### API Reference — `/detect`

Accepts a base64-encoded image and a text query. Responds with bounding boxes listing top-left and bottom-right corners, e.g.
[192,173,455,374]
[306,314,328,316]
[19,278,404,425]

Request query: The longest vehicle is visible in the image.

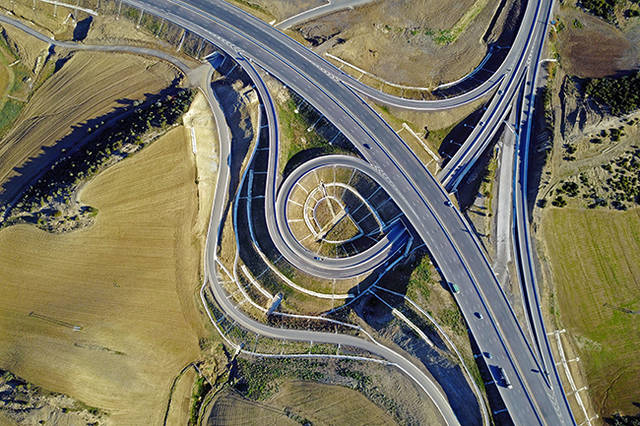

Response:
[501,368,514,388]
